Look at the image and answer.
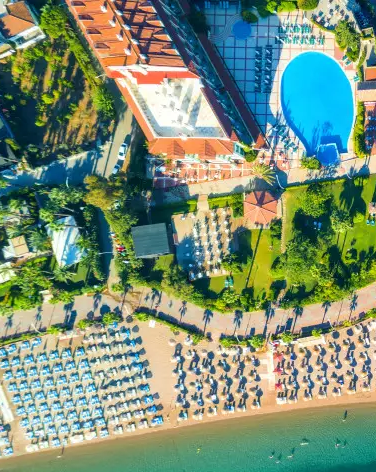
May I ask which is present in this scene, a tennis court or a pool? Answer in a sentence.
This aerial view contains a pool.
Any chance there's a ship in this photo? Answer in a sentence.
No, no ship can be seen from above.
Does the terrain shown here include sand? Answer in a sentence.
Yes, the picture does contain sand.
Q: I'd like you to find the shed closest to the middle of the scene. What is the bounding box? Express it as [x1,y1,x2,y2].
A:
[131,222,173,258]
